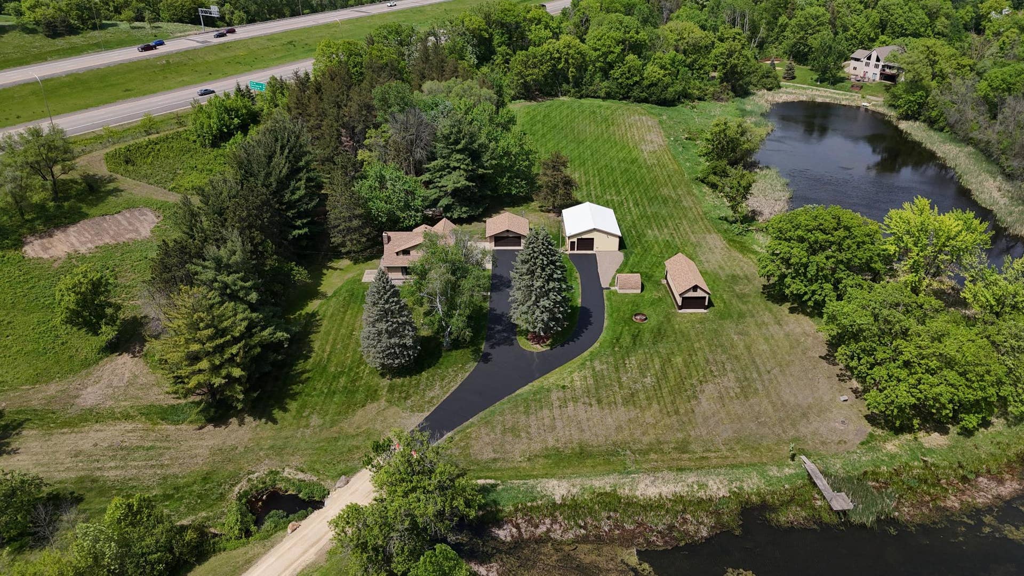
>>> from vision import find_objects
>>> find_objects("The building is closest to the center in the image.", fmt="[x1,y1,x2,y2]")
[486,210,529,247]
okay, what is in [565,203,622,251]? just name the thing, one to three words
barn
